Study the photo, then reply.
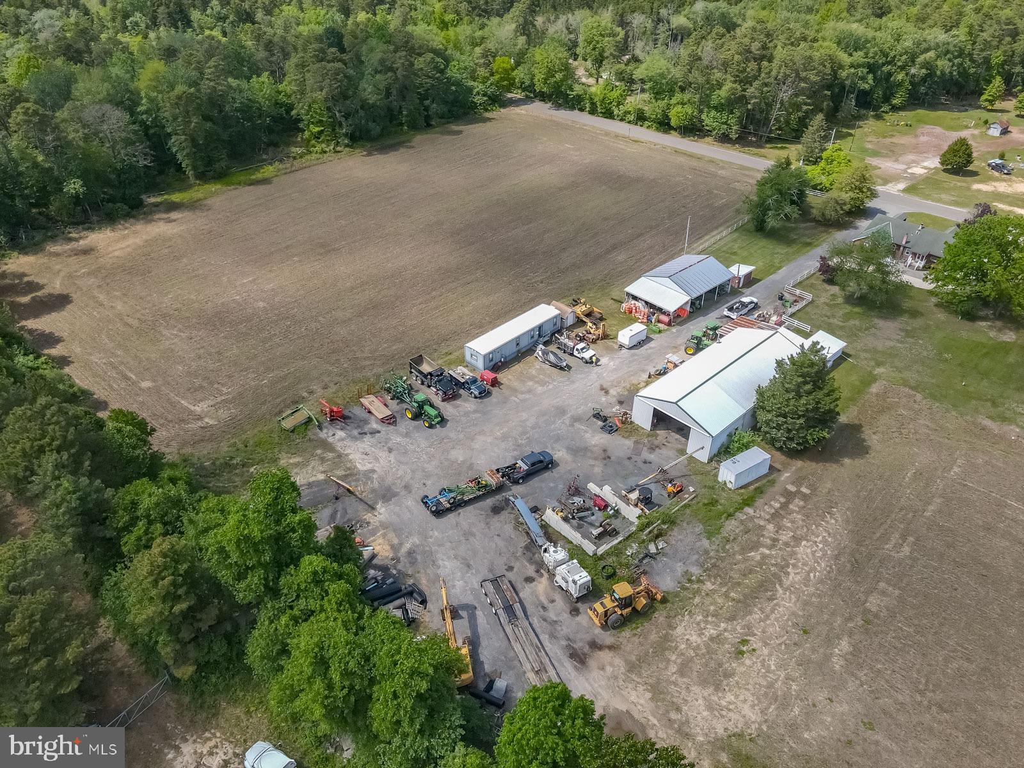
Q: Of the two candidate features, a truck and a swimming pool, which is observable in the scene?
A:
truck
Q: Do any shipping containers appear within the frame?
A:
Yes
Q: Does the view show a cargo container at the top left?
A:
No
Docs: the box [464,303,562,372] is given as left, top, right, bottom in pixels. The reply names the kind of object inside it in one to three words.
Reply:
trailer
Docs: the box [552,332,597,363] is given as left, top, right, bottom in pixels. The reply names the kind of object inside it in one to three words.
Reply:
truck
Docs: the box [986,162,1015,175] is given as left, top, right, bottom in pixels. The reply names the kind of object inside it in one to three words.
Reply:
vehicle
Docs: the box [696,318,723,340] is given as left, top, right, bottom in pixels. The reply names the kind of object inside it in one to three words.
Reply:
work vehicle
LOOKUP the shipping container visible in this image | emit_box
[718,446,771,491]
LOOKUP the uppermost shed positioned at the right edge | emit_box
[986,120,1015,135]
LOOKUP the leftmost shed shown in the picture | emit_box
[547,300,578,328]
